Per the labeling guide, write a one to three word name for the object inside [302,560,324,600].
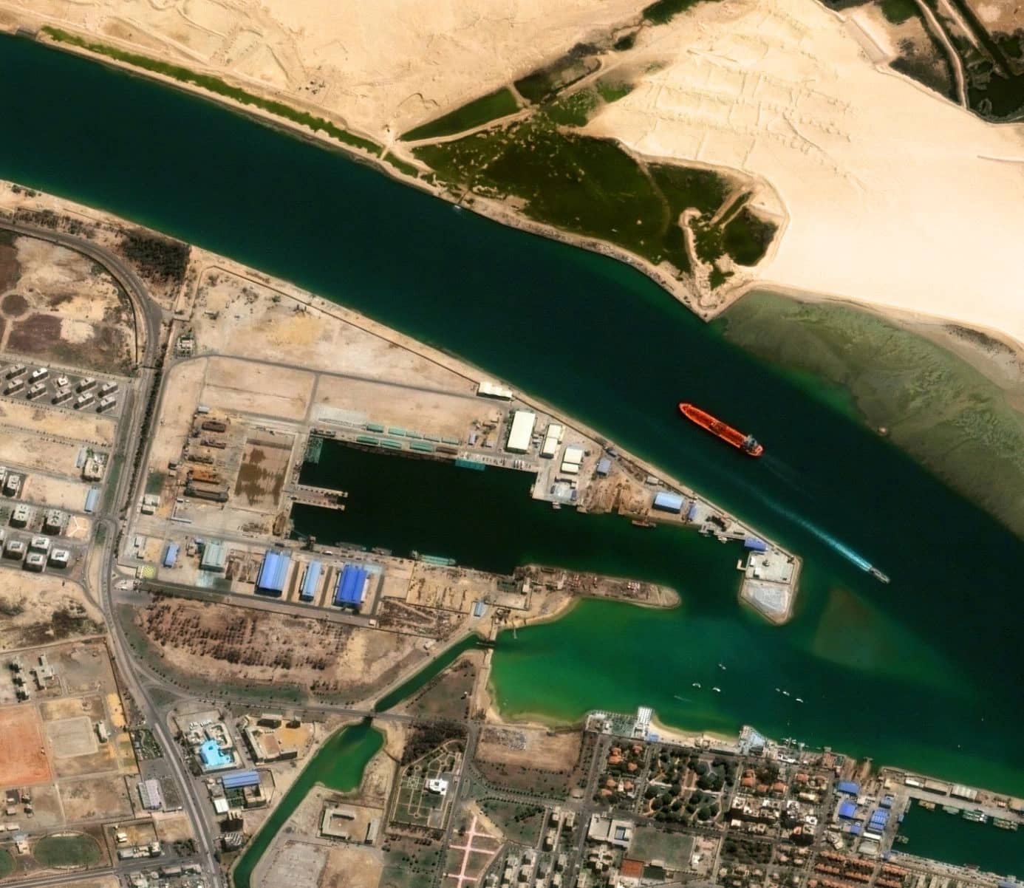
building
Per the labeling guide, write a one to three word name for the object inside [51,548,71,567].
building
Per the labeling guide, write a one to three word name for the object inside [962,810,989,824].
ship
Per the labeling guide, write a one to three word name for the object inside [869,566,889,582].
boat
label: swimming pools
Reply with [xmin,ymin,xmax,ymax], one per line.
[200,740,234,765]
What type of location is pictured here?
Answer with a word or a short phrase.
port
